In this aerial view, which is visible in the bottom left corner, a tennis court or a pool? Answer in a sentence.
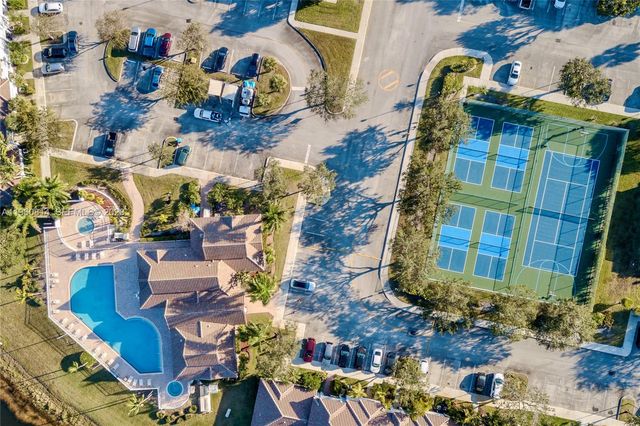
It is a pool that can be seen in the bottom left corner.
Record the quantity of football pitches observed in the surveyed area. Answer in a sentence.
I count no football pitches.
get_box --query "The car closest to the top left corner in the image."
[39,1,64,14]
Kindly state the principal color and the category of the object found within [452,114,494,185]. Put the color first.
blue sports court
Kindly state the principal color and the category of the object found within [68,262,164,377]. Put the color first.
blue swimming pool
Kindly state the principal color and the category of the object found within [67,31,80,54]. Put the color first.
blue vehicle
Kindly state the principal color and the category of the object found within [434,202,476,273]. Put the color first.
blue sports court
